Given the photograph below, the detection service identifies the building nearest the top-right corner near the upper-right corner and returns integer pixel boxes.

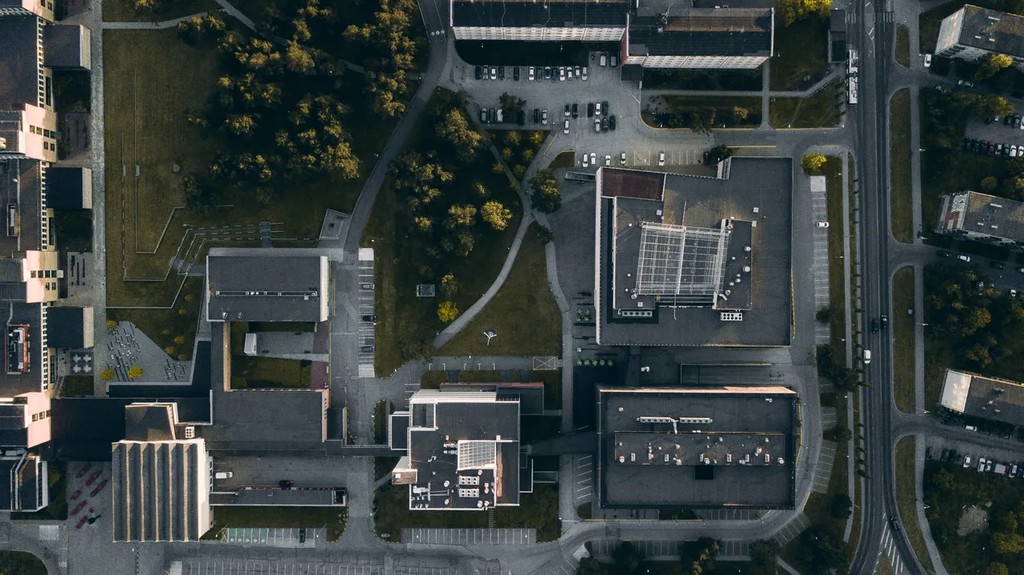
[936,5,1024,79]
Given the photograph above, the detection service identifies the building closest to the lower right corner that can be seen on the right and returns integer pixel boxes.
[941,371,1024,431]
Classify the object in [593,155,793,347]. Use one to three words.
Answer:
building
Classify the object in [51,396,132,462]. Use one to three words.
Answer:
building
